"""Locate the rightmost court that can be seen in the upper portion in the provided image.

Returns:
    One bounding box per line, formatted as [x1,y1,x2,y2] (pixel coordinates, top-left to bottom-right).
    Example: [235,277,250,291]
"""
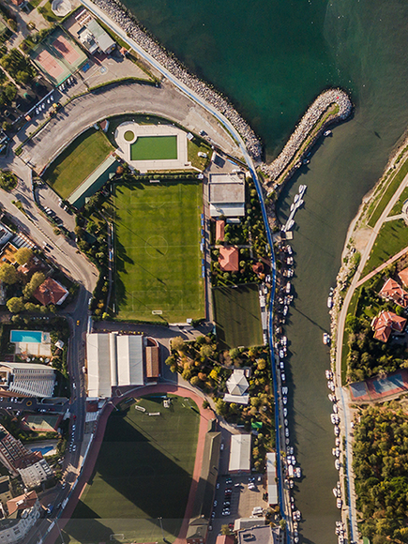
[82,56,125,85]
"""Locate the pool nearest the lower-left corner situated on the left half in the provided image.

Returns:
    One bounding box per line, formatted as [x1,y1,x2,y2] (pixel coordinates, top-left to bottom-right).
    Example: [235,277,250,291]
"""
[25,443,58,455]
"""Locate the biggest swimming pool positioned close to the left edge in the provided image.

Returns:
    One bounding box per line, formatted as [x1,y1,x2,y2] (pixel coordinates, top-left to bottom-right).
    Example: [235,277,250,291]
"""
[9,330,52,355]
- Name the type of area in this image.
sports ground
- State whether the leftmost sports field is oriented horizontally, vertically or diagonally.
diagonally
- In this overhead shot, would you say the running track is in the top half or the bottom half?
bottom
